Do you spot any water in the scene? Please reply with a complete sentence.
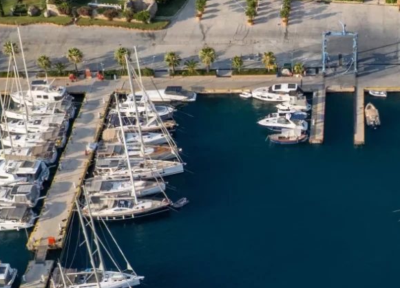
Yes, there's water in this view.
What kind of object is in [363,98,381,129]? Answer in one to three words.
boat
